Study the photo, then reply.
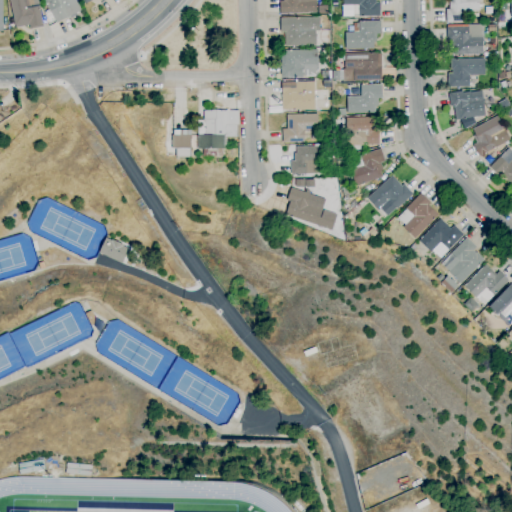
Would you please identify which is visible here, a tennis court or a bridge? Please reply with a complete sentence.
It is a tennis court that can be seen here.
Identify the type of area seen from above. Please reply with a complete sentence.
This image shows a residential area.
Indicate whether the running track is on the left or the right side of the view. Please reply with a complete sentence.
You can find the running track on the left side of the picture.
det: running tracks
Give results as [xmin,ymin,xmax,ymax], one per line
[0,477,289,512]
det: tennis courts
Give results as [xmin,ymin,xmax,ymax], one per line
[11,302,92,366]
[31,198,108,256]
[0,234,36,277]
[0,332,28,380]
[100,321,179,388]
[160,356,240,422]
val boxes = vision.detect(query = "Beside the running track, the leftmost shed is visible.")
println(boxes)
[19,460,46,475]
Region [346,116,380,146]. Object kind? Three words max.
house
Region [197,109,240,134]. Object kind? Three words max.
building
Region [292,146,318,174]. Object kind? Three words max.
house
